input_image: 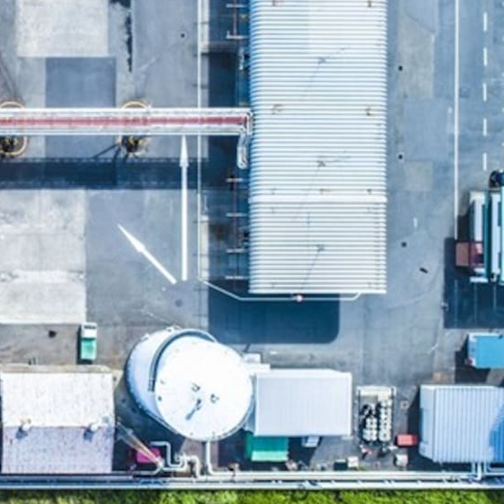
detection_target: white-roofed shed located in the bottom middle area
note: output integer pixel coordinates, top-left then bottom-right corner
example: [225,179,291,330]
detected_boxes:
[243,353,353,438]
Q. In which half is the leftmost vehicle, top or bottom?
bottom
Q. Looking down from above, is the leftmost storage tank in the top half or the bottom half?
bottom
